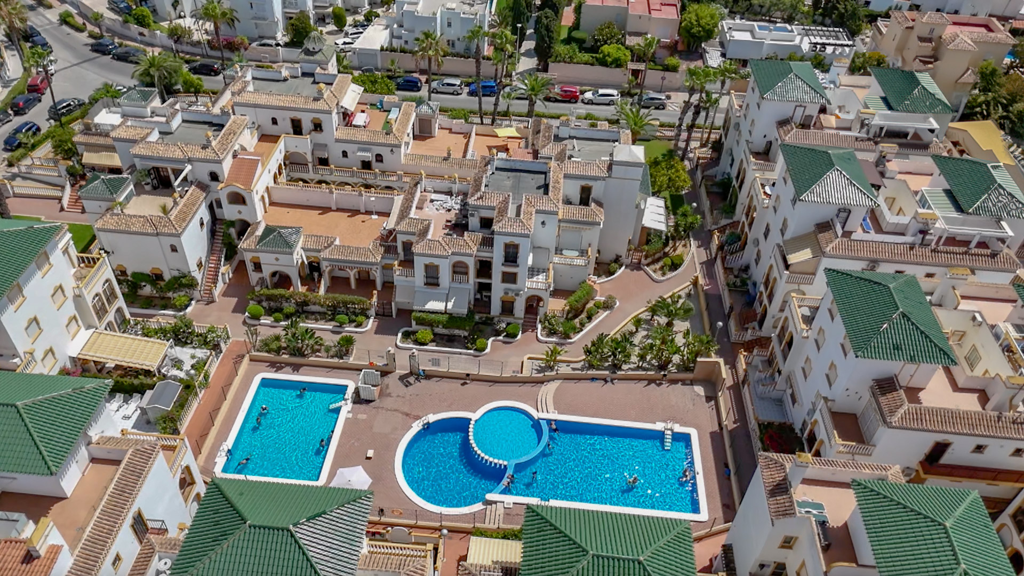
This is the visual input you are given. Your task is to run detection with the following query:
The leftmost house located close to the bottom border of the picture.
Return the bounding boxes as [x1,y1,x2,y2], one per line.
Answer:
[0,368,206,576]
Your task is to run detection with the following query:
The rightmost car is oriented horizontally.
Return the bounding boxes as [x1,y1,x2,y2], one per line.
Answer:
[633,91,670,110]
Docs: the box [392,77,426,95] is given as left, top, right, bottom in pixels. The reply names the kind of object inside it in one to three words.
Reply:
car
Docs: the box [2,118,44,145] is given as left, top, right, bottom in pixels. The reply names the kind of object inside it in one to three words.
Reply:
car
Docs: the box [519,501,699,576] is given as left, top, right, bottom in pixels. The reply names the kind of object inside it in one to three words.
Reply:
house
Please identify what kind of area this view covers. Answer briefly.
residential area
